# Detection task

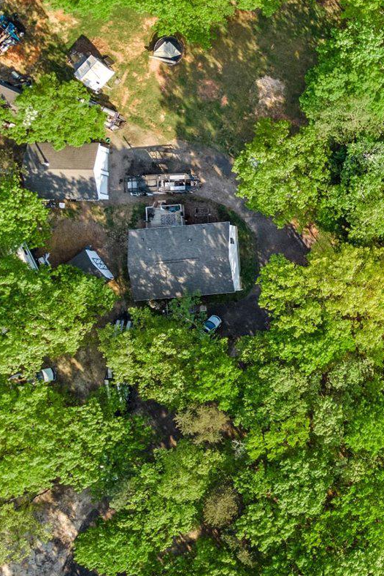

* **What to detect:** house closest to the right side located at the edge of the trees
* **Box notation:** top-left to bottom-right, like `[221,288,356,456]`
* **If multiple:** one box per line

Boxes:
[126,201,243,301]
